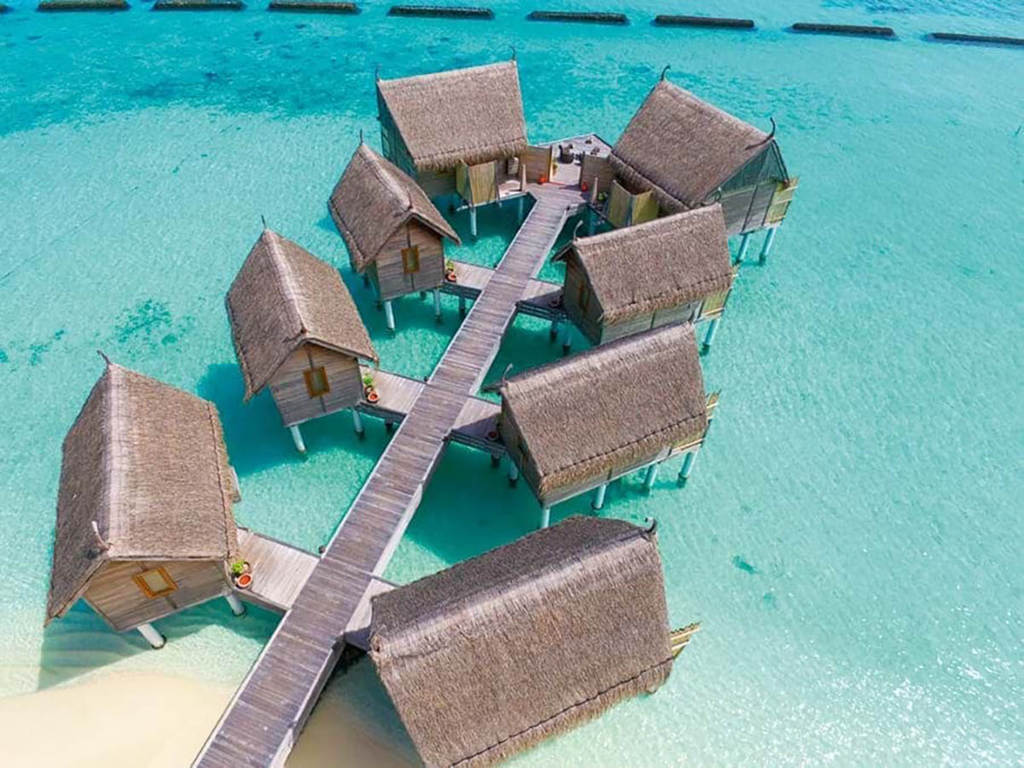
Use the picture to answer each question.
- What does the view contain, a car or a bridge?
bridge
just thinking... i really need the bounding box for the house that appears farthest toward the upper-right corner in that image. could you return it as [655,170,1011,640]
[607,64,794,260]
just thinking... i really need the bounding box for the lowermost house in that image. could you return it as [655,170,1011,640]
[368,515,688,768]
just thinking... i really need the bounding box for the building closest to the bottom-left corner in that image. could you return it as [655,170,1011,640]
[39,347,246,650]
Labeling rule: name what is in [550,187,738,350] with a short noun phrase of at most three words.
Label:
house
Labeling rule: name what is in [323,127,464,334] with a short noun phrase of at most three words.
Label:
house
